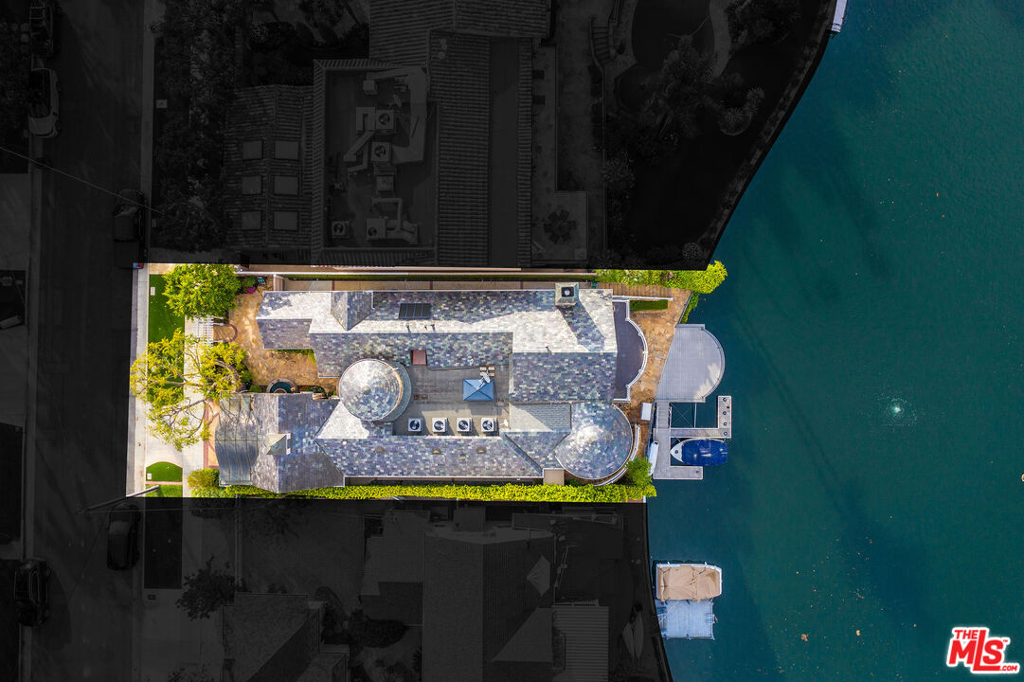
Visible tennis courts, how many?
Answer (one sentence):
I count no tennis courts.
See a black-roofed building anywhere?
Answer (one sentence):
Yes, looking at the shot, I can spot a black-roofed building.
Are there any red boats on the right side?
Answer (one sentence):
No, no red boat is visible on the right side.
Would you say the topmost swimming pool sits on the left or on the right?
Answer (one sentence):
The topmost swimming pool is on the right side of the image.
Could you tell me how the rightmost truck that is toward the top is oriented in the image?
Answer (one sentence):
Seen from above, the rightmost truck that is toward the top lies vertically.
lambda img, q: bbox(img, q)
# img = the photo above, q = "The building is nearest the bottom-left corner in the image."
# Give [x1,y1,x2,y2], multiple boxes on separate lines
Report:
[225,582,349,682]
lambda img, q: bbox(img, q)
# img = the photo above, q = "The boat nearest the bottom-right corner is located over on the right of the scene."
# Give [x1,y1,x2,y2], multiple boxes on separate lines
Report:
[658,565,724,604]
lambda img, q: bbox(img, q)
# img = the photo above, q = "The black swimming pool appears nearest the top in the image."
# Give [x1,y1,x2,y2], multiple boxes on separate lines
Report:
[614,0,718,113]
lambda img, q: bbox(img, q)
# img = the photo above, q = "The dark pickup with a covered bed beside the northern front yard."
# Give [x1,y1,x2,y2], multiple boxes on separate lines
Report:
[111,188,149,270]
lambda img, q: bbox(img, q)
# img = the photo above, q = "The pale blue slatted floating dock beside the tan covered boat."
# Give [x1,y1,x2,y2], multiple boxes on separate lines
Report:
[657,599,718,639]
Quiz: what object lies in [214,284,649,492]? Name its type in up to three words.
house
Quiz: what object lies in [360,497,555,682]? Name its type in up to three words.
house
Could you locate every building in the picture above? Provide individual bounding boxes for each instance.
[214,284,649,492]
[225,582,349,682]
[312,0,550,278]
[360,497,555,682]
